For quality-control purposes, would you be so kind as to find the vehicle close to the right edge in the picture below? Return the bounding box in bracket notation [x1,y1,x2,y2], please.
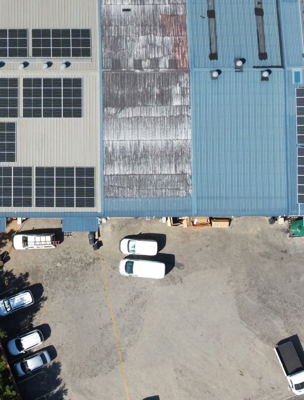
[273,341,304,396]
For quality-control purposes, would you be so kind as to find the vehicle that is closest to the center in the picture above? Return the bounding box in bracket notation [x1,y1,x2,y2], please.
[119,238,158,257]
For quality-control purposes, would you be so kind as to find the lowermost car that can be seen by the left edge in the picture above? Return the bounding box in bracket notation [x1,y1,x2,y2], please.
[13,349,53,376]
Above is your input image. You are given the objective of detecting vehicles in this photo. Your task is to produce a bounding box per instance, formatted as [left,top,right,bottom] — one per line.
[117,259,166,279]
[7,330,46,356]
[0,290,35,316]
[273,341,304,396]
[119,238,158,257]
[13,349,53,376]
[12,233,56,252]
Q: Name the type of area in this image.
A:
industrial area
